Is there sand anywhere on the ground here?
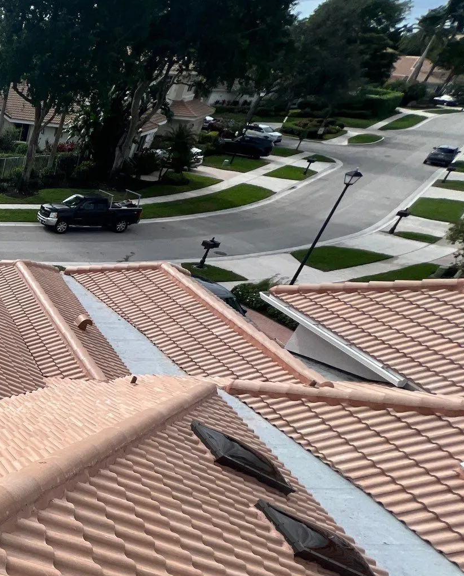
No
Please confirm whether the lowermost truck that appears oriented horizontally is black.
Yes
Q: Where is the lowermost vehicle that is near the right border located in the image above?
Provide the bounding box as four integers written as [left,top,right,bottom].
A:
[423,139,460,163]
